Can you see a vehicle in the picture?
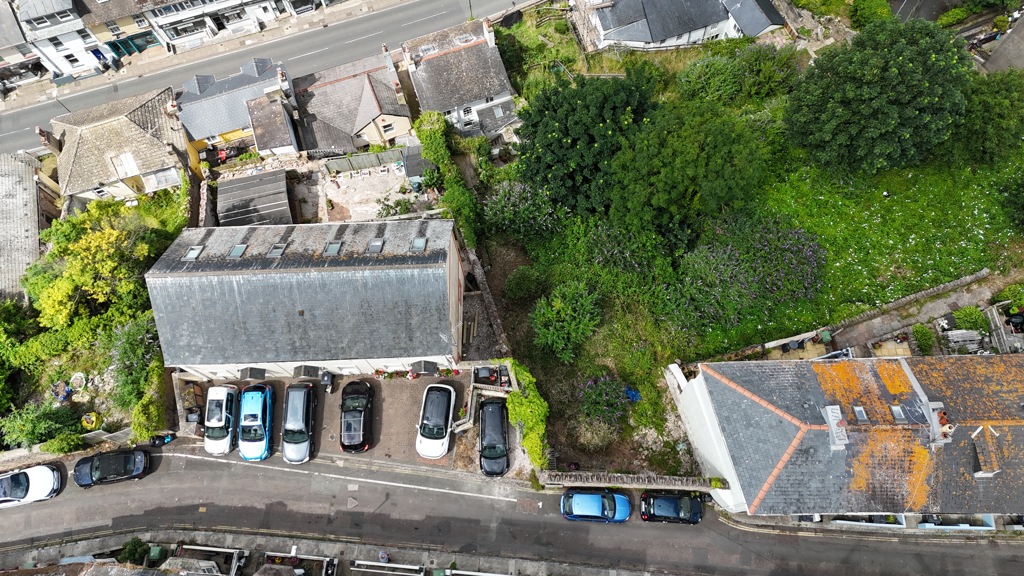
Yes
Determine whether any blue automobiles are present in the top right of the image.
No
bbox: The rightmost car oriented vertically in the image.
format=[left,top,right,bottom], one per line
[476,401,513,477]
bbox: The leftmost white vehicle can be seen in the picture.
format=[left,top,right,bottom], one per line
[0,465,63,509]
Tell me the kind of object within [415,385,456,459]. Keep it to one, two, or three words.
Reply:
car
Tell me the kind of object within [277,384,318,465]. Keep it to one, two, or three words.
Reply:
car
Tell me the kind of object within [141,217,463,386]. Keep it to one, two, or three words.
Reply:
building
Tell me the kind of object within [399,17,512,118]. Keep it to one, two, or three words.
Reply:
house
